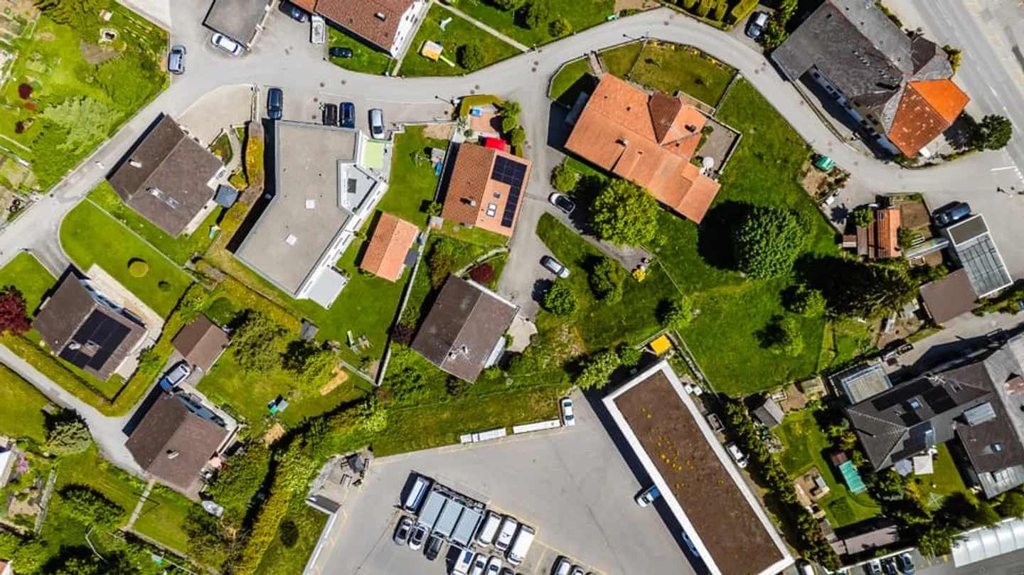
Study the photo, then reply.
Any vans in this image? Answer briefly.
Yes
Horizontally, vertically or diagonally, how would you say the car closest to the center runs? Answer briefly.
diagonally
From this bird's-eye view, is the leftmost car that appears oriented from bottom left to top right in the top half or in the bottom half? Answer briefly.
bottom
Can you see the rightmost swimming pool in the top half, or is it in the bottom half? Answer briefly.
bottom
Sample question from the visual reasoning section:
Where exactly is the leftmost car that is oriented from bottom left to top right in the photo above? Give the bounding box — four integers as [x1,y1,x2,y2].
[160,360,195,392]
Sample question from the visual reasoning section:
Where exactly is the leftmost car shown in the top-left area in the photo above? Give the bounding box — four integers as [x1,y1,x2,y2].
[169,44,187,76]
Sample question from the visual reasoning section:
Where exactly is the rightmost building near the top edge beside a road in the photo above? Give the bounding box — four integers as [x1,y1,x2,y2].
[768,0,969,158]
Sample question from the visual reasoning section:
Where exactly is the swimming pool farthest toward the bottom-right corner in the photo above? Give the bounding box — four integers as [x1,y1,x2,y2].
[839,460,865,493]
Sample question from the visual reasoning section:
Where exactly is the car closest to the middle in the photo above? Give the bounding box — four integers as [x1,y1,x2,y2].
[538,253,572,280]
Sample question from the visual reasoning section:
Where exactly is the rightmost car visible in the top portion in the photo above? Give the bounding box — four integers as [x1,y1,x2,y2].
[929,202,972,225]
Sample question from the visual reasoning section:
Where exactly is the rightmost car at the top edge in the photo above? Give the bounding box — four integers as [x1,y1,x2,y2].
[744,9,770,41]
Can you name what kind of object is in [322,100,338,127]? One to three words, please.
car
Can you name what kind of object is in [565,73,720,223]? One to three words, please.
house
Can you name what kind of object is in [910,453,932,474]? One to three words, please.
umbrella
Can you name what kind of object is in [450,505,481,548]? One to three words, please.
trailer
